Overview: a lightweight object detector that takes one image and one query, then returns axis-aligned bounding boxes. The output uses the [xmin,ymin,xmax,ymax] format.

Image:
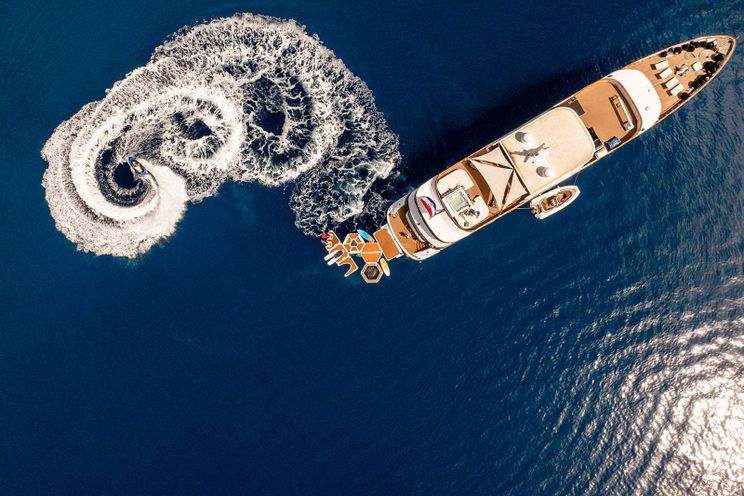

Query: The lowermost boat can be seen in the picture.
[323,250,344,265]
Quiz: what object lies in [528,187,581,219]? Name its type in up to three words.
boat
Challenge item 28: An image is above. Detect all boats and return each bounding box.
[528,187,581,219]
[323,250,344,265]
[129,158,146,176]
[373,33,744,261]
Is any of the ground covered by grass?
No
